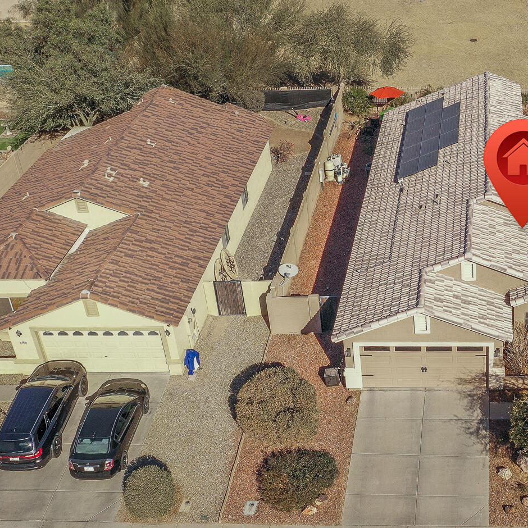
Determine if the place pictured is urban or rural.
urban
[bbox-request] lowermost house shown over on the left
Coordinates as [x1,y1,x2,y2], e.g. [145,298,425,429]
[0,81,274,376]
